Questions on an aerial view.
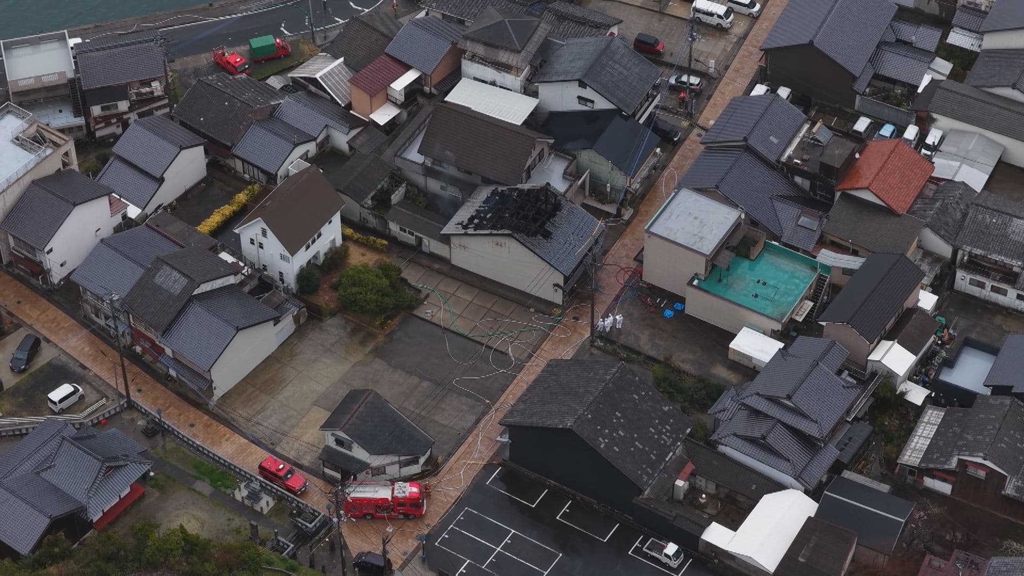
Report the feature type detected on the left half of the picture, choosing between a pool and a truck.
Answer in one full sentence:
Looking on the left half of the picture, you will find a truck.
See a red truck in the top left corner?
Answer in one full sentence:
Yes, a red truck can be seen in the top left corner.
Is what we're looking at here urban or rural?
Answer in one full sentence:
The area shown here is urban.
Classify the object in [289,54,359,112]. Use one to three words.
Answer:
shed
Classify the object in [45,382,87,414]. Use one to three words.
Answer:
car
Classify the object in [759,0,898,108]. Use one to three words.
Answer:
house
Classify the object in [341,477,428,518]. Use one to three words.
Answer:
truck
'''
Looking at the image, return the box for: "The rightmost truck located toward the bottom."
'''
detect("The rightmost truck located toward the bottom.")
[644,535,685,566]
